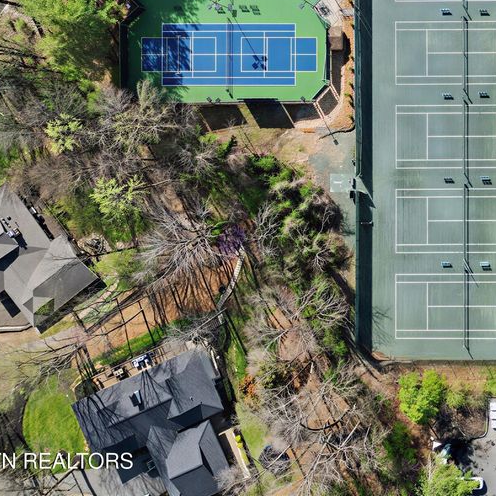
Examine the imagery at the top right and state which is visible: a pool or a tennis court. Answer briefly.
tennis court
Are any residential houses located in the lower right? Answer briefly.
No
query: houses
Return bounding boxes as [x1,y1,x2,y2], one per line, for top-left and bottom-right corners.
[0,183,105,328]
[71,341,236,496]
